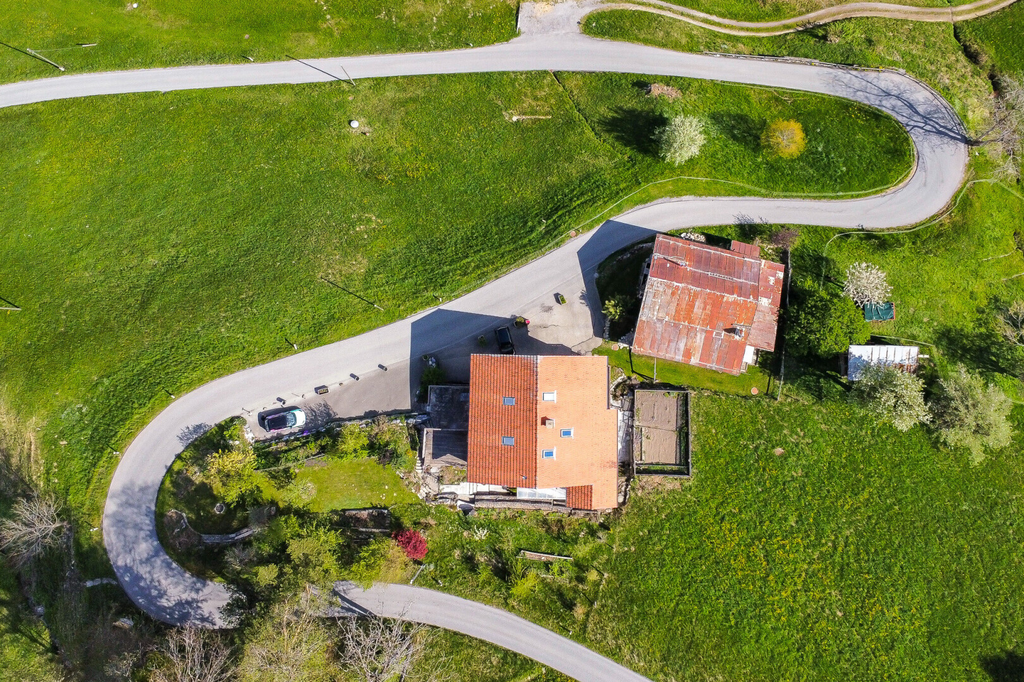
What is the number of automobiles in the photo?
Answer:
2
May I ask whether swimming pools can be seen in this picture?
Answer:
No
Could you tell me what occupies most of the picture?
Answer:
grass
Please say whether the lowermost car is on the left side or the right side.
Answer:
left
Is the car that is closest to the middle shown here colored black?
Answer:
Yes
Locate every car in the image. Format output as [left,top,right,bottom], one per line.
[260,410,304,433]
[495,323,518,355]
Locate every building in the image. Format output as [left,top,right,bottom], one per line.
[840,345,930,381]
[467,354,618,510]
[632,234,784,376]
